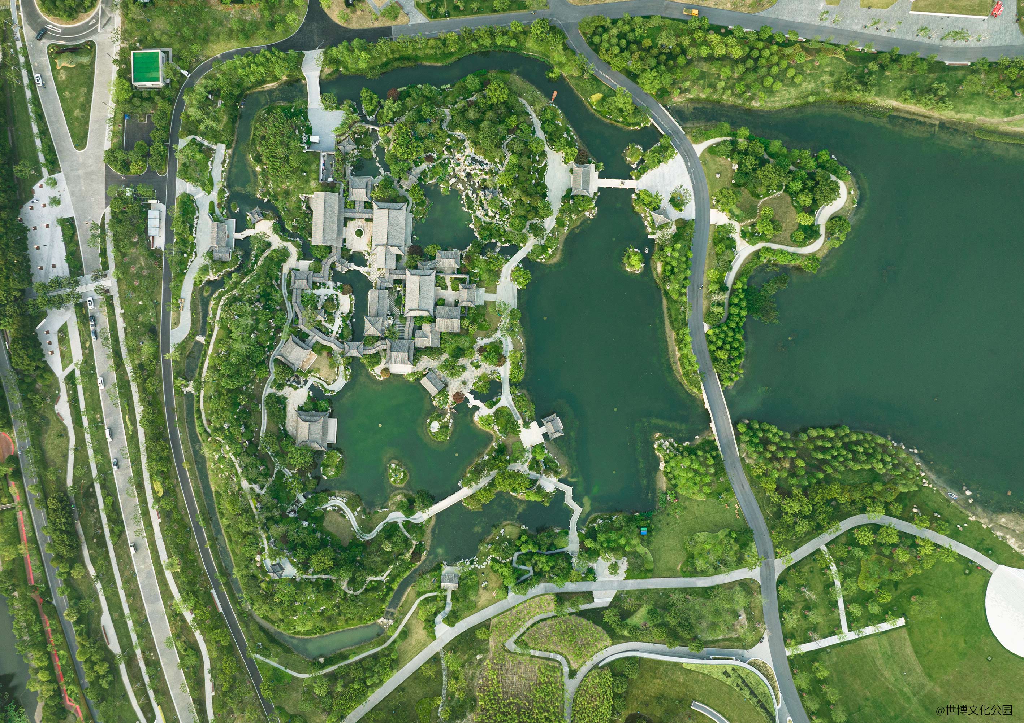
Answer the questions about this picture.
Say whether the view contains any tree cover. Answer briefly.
Yes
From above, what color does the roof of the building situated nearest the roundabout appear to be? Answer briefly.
green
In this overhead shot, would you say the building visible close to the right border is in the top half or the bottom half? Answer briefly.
bottom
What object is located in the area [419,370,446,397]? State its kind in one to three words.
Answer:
building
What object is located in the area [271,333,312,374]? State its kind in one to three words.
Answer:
building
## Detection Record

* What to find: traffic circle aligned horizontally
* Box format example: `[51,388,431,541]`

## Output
[20,0,117,43]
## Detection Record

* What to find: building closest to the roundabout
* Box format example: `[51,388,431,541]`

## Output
[131,50,174,89]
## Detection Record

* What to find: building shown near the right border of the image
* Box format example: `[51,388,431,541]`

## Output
[985,563,1024,659]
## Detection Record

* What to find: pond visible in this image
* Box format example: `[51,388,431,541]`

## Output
[288,130,519,514]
